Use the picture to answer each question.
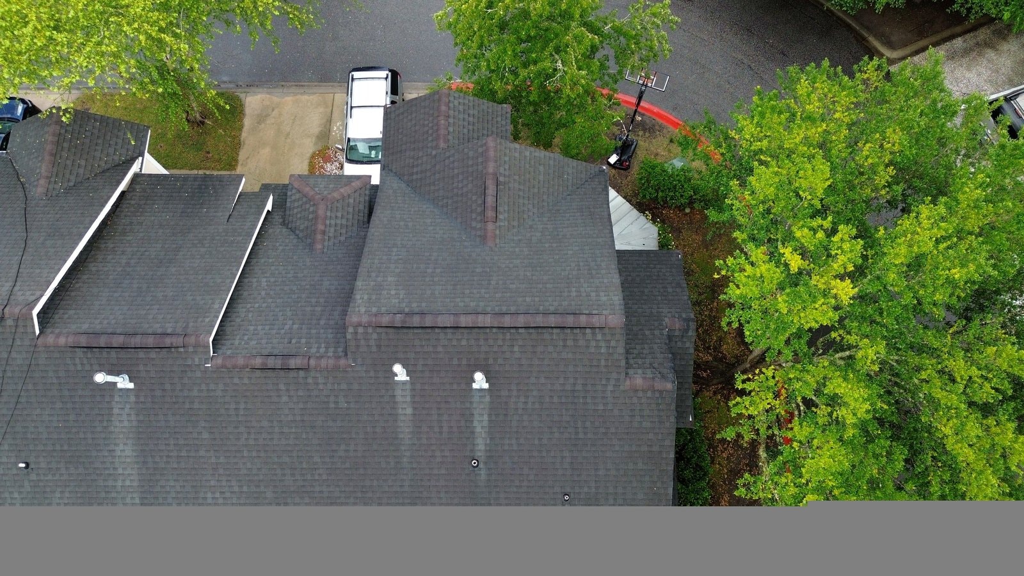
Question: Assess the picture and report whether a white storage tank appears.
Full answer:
No, the frame has no white storage tank in it.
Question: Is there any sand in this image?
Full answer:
No, no sand is visible.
